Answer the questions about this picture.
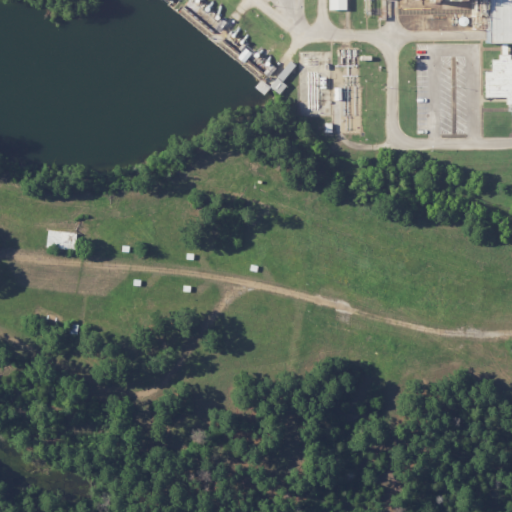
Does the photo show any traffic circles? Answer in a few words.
No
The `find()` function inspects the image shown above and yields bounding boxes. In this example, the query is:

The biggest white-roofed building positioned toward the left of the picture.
[46,230,76,250]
